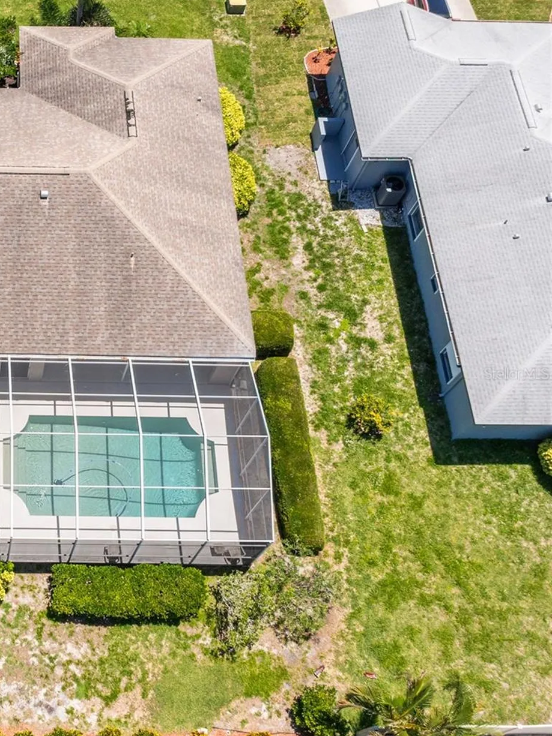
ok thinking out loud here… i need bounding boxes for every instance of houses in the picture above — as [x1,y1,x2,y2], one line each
[322,0,552,449]
[0,25,257,392]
